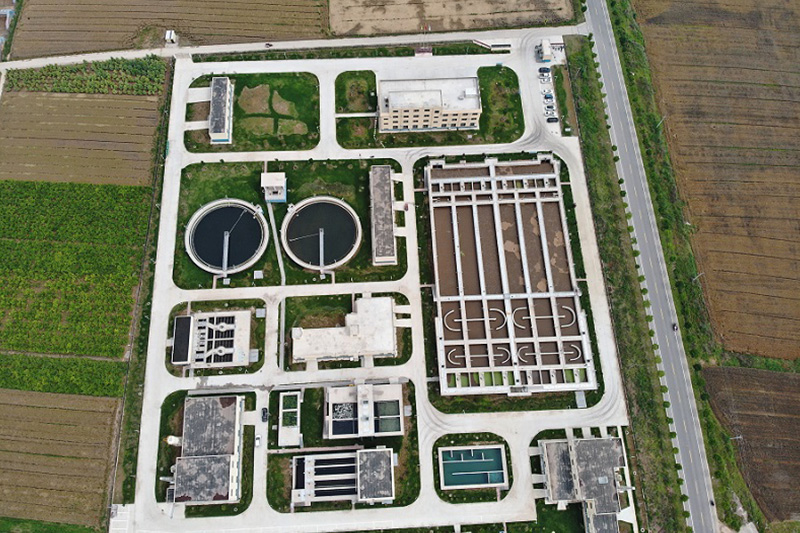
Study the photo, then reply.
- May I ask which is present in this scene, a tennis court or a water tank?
water tank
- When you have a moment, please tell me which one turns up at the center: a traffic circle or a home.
home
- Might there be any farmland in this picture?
Yes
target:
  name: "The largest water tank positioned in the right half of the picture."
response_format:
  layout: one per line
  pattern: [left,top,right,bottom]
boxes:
[423,153,598,399]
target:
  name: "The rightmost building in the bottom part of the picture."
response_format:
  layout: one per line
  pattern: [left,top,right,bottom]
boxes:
[536,437,625,533]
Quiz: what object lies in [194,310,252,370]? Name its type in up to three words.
water tank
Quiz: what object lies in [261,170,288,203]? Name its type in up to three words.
house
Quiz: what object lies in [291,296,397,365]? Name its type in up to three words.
building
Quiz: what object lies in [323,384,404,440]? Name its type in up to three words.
water tank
